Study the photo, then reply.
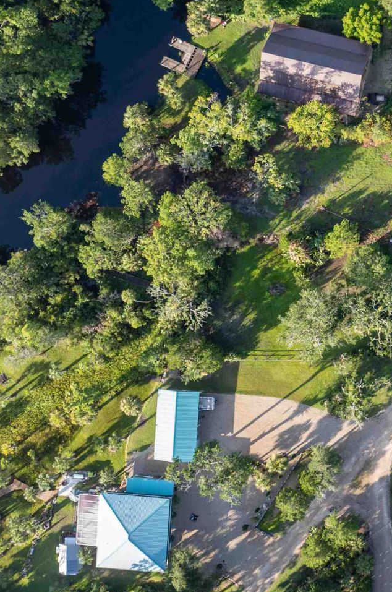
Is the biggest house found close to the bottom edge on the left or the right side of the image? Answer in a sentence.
The biggest house found close to the bottom edge appears in the left half of the scene.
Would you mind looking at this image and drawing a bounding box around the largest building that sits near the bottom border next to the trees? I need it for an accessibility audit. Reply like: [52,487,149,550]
[77,472,174,572]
